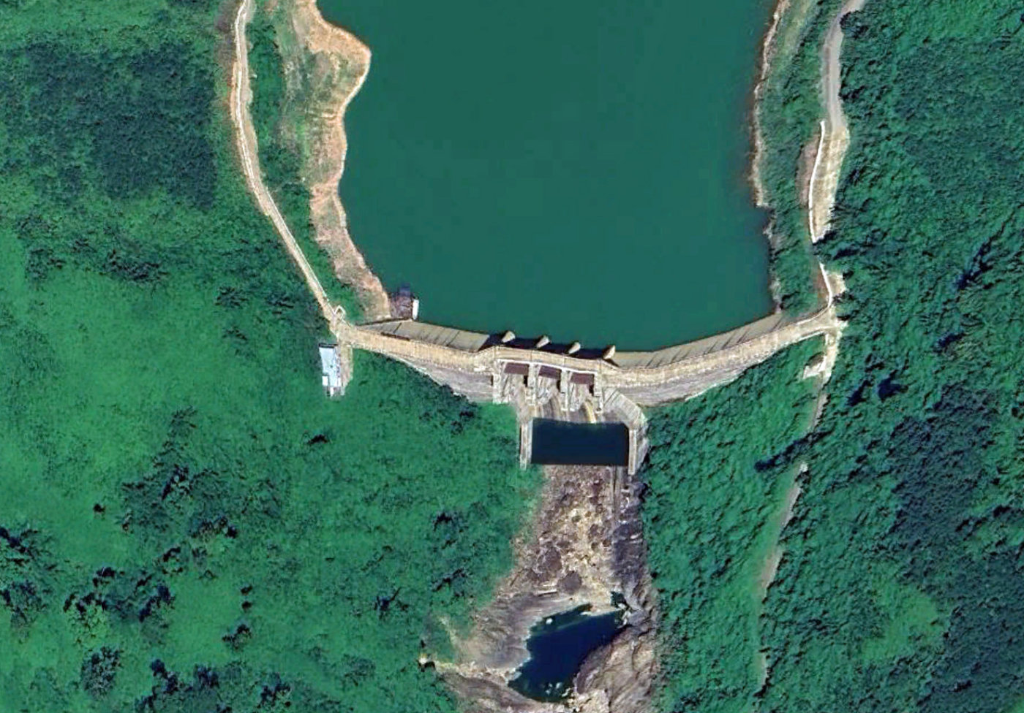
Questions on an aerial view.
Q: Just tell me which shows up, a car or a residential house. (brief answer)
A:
residential house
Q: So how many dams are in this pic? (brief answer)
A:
1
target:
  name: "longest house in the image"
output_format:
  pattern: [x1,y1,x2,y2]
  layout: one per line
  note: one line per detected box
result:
[319,343,344,396]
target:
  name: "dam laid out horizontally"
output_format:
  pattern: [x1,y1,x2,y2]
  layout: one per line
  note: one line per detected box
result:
[338,307,835,474]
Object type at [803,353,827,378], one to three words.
shed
